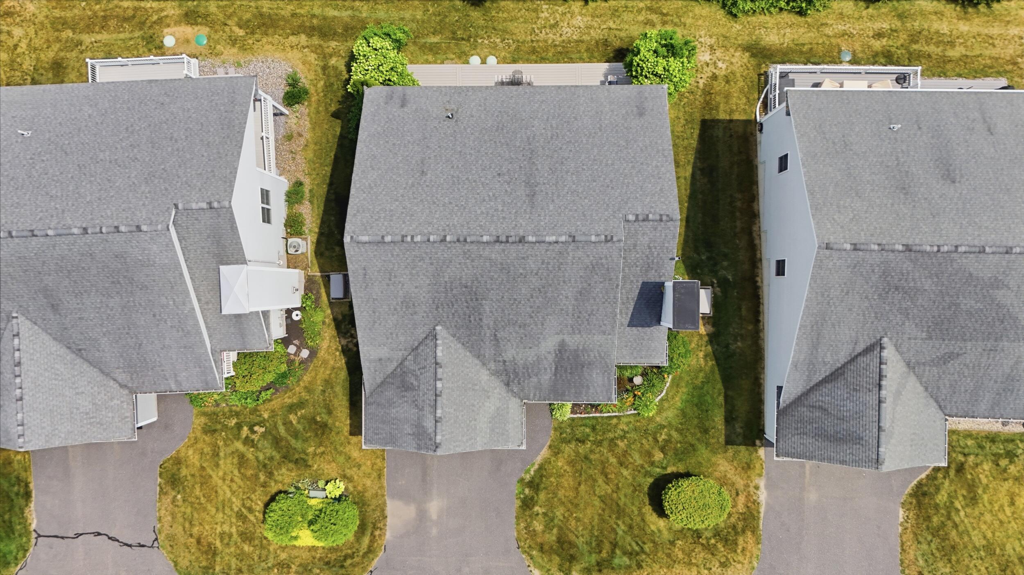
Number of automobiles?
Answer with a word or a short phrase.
0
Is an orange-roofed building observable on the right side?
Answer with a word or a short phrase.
No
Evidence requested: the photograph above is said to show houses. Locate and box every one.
[344,86,701,455]
[758,87,1024,465]
[0,75,301,452]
